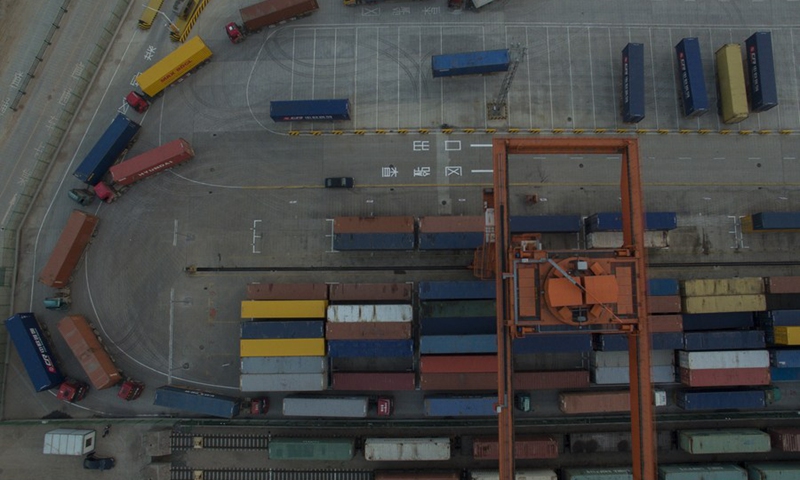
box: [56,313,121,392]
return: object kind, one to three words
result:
shipping container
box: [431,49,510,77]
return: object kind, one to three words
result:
shipping container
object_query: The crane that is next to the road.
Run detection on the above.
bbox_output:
[467,138,664,480]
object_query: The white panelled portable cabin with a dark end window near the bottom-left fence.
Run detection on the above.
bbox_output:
[44,430,95,455]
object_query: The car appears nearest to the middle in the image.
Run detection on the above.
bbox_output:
[324,175,354,189]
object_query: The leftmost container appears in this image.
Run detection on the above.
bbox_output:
[5,312,62,394]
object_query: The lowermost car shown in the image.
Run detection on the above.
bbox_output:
[83,451,116,472]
